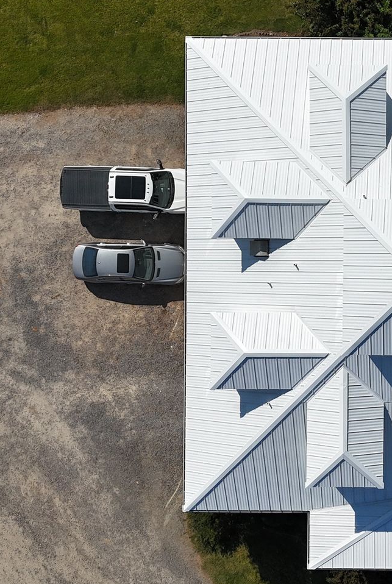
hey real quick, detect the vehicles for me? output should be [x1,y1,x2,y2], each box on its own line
[58,155,186,221]
[73,240,185,287]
